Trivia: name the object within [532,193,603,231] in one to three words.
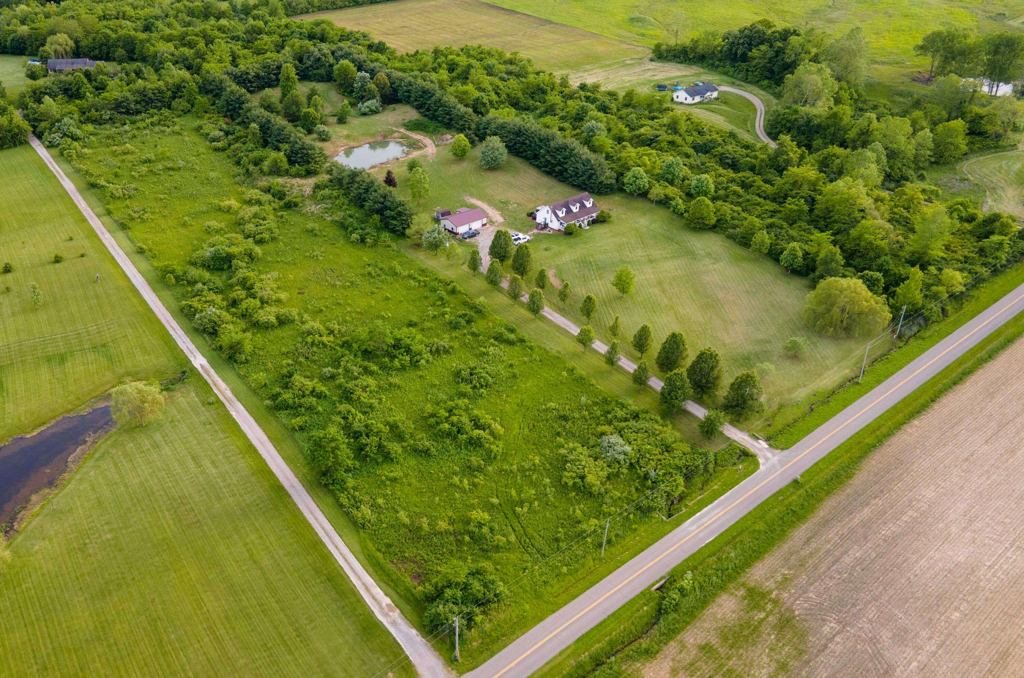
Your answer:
house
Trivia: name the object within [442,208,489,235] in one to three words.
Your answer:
building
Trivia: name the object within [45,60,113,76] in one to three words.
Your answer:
house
